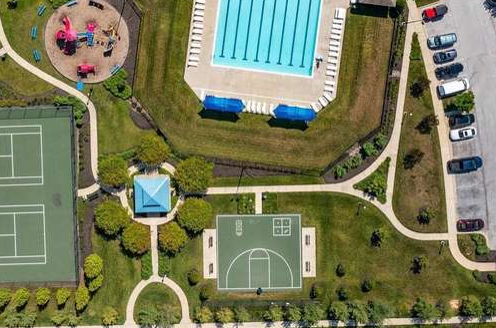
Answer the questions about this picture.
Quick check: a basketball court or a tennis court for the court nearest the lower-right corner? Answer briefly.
basketball court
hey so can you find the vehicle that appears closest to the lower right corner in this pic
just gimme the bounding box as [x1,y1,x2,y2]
[455,219,484,232]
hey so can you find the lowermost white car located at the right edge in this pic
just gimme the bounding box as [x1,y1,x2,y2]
[448,127,476,141]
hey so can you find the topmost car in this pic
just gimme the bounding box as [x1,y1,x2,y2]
[420,4,450,20]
